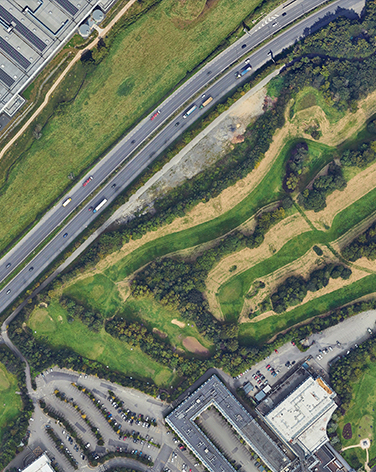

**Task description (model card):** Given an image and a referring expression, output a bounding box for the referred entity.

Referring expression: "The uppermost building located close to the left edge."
[0,0,119,116]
